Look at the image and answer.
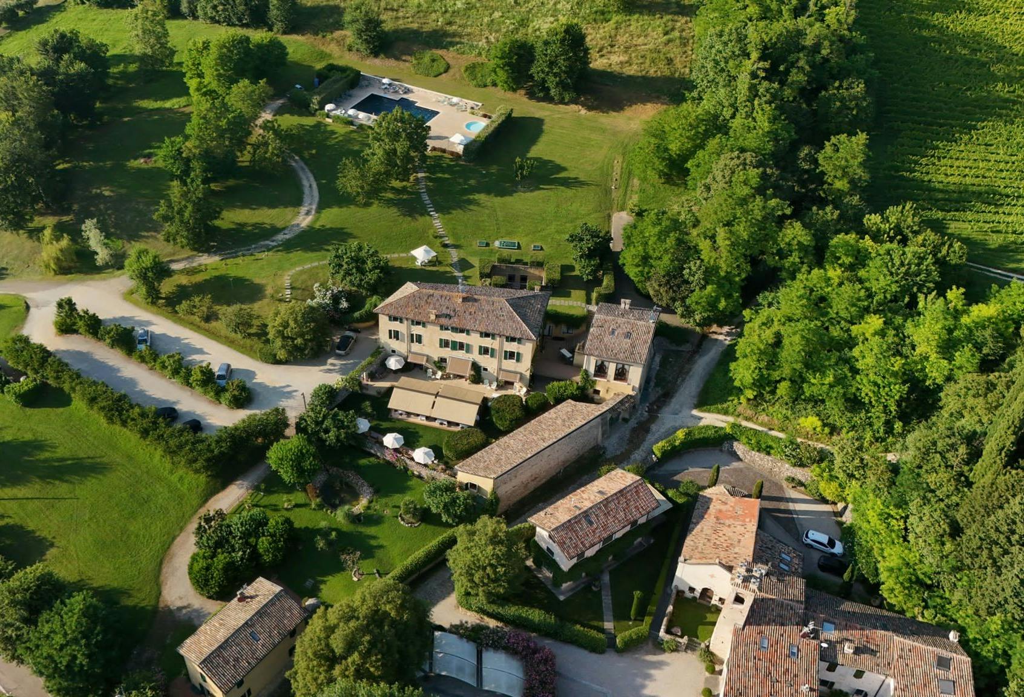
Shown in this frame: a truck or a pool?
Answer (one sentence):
Of the two, only a pool appears.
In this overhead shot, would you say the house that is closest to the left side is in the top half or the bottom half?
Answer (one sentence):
The bottom half of the photo is where the house that is closest to the left side is.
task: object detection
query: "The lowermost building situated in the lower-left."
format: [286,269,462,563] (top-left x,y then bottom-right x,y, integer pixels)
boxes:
[176,575,310,697]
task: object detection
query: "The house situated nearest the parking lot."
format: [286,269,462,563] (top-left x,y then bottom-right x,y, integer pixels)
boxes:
[373,277,551,389]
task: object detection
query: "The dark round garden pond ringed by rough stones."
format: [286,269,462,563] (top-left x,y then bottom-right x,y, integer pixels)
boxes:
[312,465,369,513]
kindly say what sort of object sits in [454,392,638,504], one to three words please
barn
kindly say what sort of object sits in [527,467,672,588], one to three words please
house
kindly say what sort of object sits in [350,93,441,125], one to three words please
swimming pool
